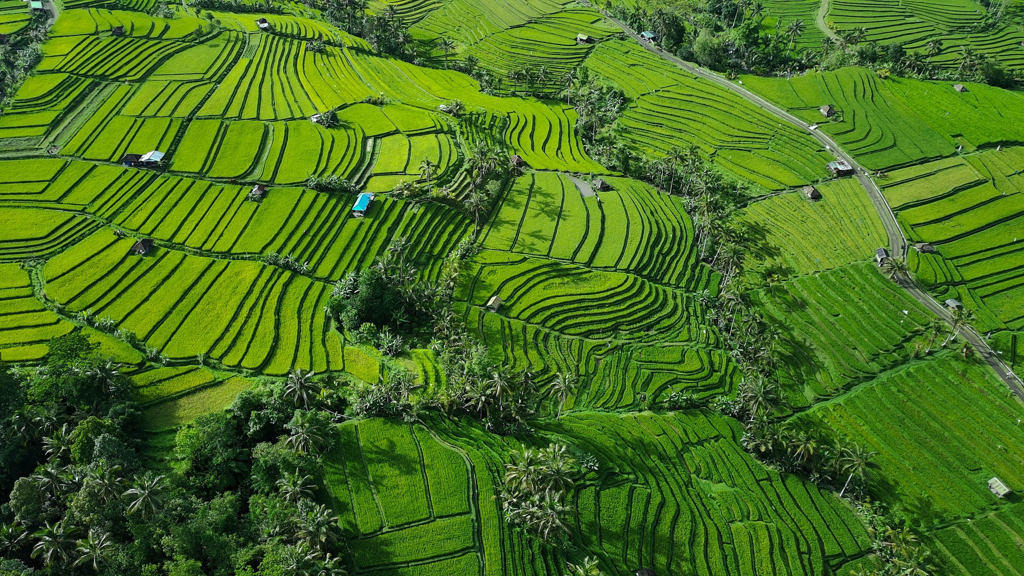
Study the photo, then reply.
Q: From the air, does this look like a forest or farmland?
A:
farmland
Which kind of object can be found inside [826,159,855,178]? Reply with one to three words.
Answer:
shed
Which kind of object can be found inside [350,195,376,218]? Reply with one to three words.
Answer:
shed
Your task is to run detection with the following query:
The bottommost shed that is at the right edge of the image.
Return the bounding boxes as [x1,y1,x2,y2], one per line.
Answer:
[985,476,1016,500]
